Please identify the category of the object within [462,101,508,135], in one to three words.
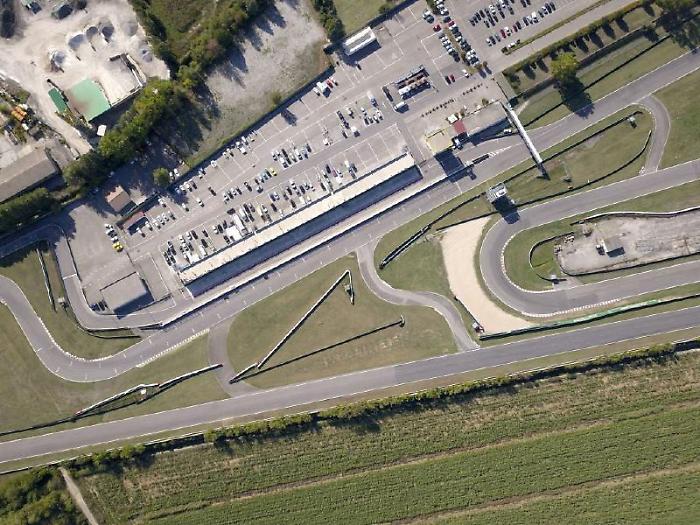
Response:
building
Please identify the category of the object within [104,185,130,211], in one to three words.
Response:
house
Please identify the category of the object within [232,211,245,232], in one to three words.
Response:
vehicle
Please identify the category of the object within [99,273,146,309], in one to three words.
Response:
building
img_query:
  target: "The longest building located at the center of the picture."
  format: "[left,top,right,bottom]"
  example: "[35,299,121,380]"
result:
[181,152,414,284]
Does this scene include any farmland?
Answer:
Yes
